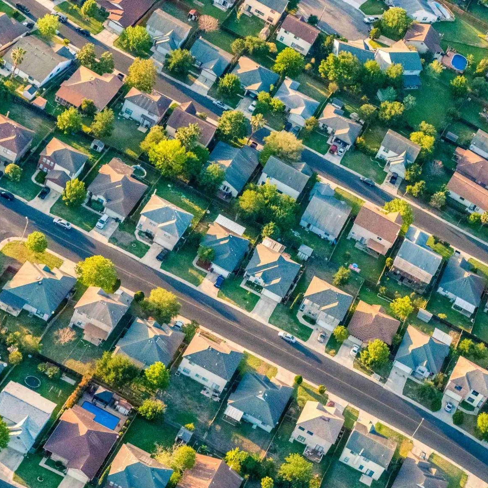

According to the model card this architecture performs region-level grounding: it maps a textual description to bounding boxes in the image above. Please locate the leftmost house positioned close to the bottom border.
[0,380,58,470]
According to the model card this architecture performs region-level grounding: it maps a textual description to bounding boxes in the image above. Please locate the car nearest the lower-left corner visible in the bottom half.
[172,316,185,333]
